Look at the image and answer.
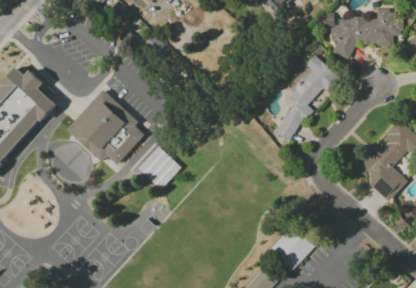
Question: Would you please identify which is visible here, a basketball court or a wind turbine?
basketball court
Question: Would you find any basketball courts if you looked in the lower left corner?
Yes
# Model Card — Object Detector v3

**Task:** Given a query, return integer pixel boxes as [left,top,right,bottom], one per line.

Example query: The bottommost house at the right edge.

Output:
[364,123,416,202]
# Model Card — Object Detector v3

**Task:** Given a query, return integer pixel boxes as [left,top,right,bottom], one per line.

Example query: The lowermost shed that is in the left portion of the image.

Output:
[139,148,180,186]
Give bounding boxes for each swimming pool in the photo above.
[406,180,416,198]
[267,90,283,116]
[349,0,372,11]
